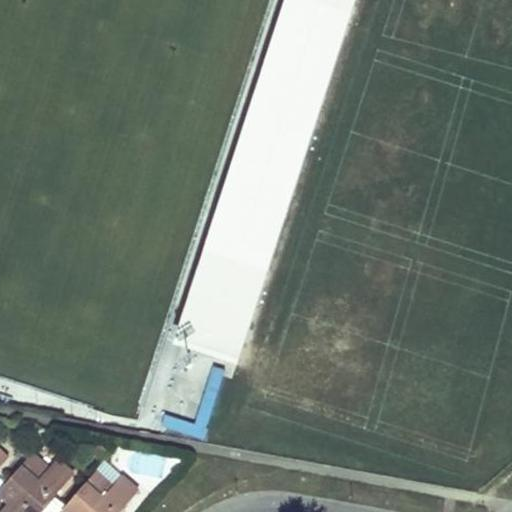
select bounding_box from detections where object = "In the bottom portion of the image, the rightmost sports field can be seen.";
[375,262,512,461]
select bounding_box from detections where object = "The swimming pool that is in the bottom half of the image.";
[128,452,166,478]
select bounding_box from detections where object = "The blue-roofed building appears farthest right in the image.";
[162,366,224,442]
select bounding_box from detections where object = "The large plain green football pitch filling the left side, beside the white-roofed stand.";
[0,0,272,416]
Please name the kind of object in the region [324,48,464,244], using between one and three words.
sports field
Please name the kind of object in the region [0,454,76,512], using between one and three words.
house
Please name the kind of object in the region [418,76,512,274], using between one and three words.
sports field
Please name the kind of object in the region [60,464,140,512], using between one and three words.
house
